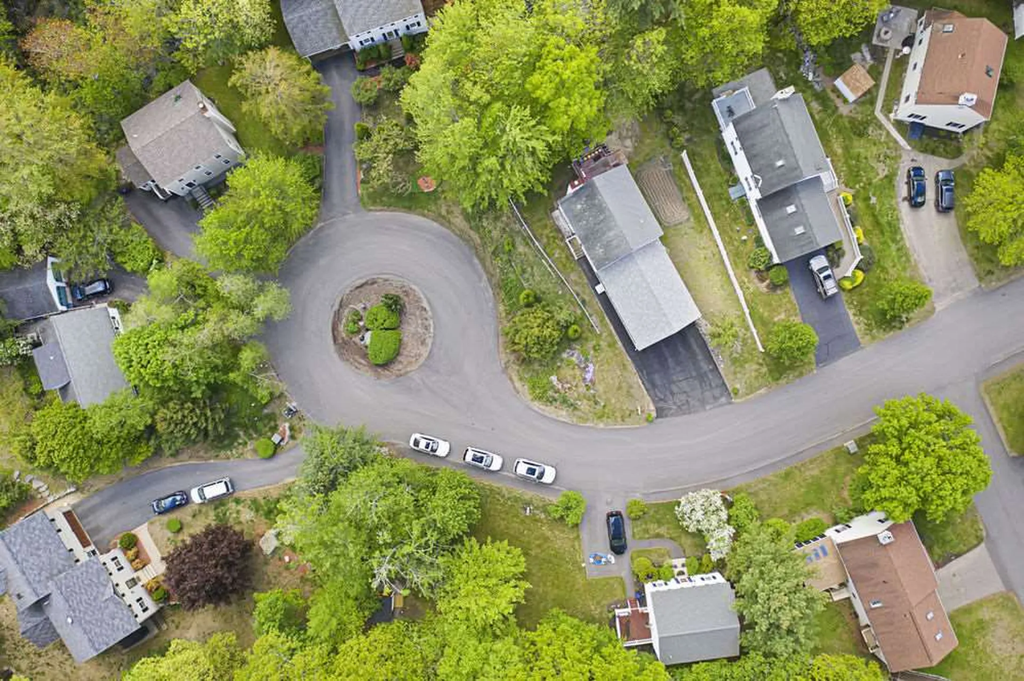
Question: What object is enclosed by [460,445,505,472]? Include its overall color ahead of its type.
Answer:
white car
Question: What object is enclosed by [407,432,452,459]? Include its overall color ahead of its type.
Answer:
white car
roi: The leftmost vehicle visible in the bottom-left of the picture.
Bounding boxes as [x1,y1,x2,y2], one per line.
[151,491,190,514]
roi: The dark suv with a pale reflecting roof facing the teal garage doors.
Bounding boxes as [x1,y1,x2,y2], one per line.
[74,277,120,301]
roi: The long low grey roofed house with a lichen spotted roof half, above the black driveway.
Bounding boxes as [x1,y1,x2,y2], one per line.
[545,148,702,351]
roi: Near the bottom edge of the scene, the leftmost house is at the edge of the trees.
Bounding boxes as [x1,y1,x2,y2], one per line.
[0,504,166,664]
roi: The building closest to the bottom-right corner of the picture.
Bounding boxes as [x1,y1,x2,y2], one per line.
[786,511,961,672]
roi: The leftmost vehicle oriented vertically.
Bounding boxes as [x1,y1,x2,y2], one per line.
[606,509,628,553]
